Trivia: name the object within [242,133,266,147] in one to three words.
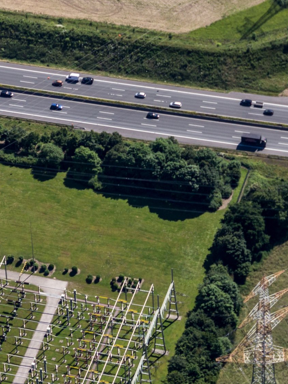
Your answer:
vehicle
